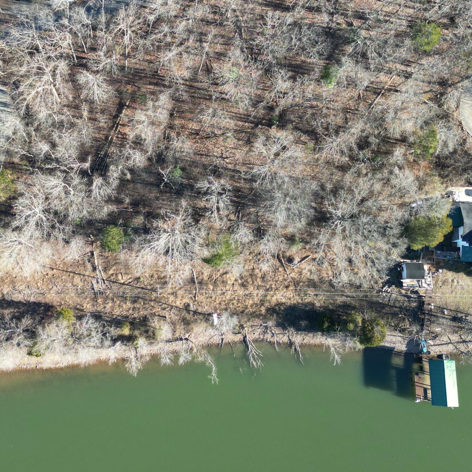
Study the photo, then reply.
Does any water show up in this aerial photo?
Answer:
Yes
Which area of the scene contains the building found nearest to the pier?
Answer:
bottom right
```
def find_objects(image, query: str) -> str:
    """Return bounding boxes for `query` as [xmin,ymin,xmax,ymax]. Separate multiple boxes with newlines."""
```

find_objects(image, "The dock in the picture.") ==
[411,352,432,402]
